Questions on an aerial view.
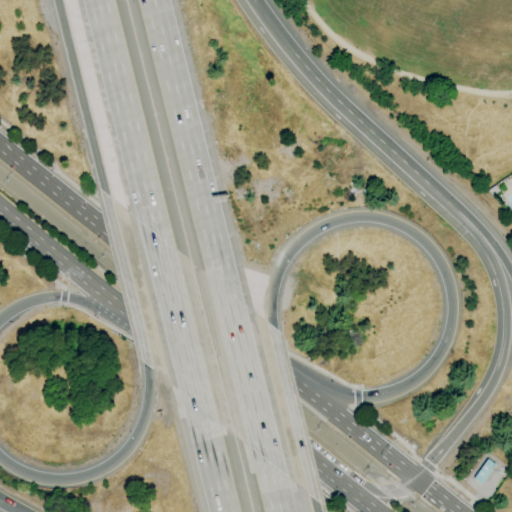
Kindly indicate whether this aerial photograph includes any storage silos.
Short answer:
No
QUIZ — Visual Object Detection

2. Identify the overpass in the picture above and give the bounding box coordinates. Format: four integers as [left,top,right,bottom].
[100,190,324,504]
